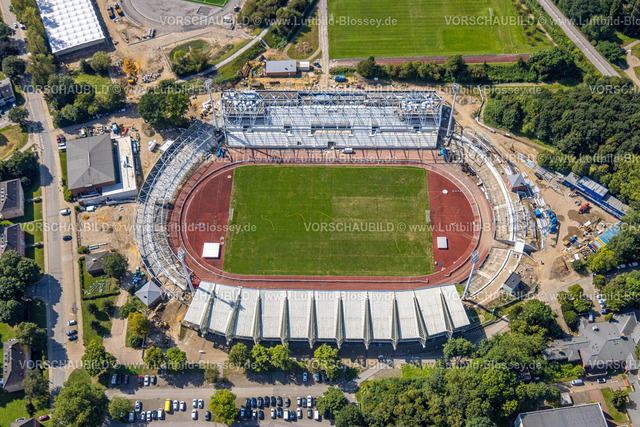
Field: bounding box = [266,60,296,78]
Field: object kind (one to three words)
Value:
building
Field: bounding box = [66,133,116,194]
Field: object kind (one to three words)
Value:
building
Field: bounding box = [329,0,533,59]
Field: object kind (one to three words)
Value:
soccer field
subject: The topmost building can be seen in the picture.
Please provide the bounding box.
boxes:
[36,0,106,60]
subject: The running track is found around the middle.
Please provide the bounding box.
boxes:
[166,151,494,291]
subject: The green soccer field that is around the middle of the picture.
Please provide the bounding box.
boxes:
[222,164,435,275]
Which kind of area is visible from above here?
sports ground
